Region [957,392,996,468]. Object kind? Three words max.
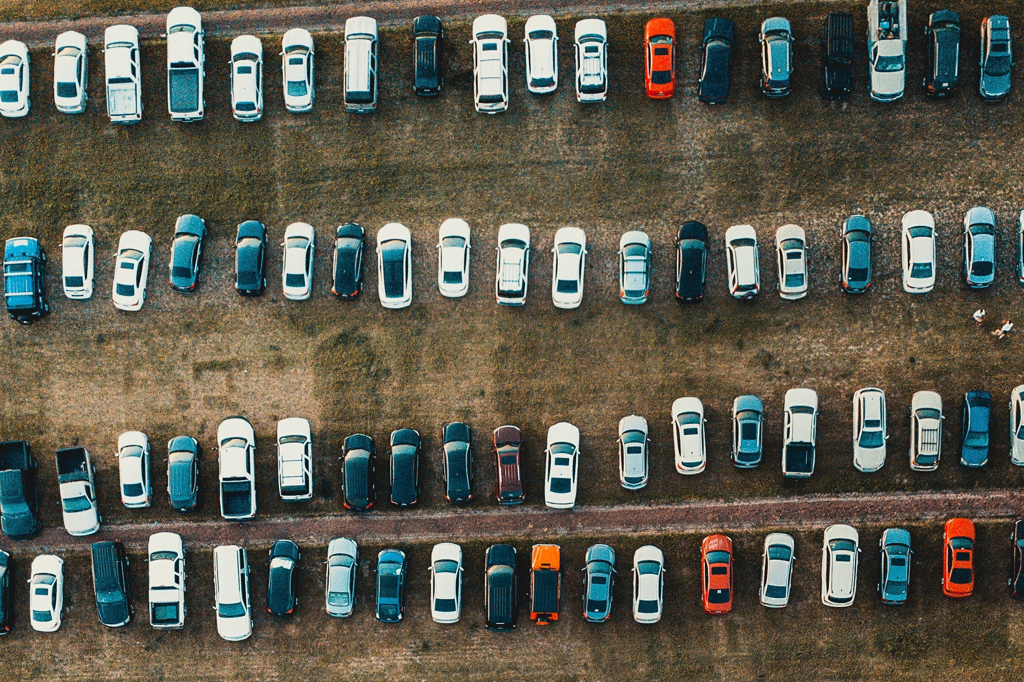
car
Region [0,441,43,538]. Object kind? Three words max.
truck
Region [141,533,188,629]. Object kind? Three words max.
truck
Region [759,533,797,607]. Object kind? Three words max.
car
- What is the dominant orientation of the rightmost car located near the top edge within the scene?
vertically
